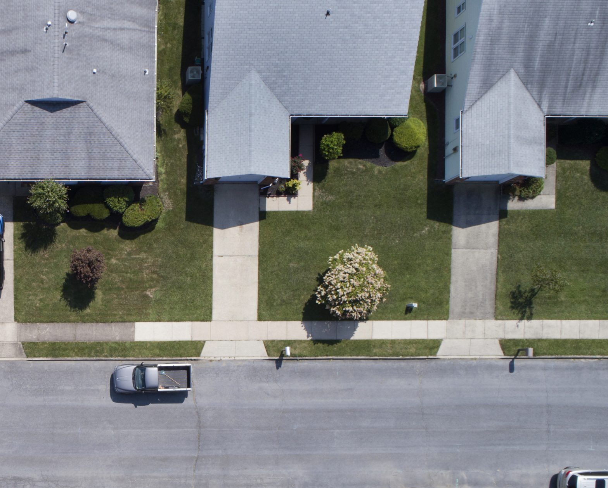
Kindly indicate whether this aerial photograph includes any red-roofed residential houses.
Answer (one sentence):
No, this view has no red-roofed residential house in it.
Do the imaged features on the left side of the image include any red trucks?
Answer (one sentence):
No, no red truck is visible on the left side of the image.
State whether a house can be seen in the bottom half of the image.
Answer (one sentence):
No, there is no house in the bottom half of the image.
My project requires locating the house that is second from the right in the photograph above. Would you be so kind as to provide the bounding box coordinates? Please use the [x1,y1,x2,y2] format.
[195,0,424,195]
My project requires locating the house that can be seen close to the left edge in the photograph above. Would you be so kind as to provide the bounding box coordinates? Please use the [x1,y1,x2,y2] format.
[0,0,155,185]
